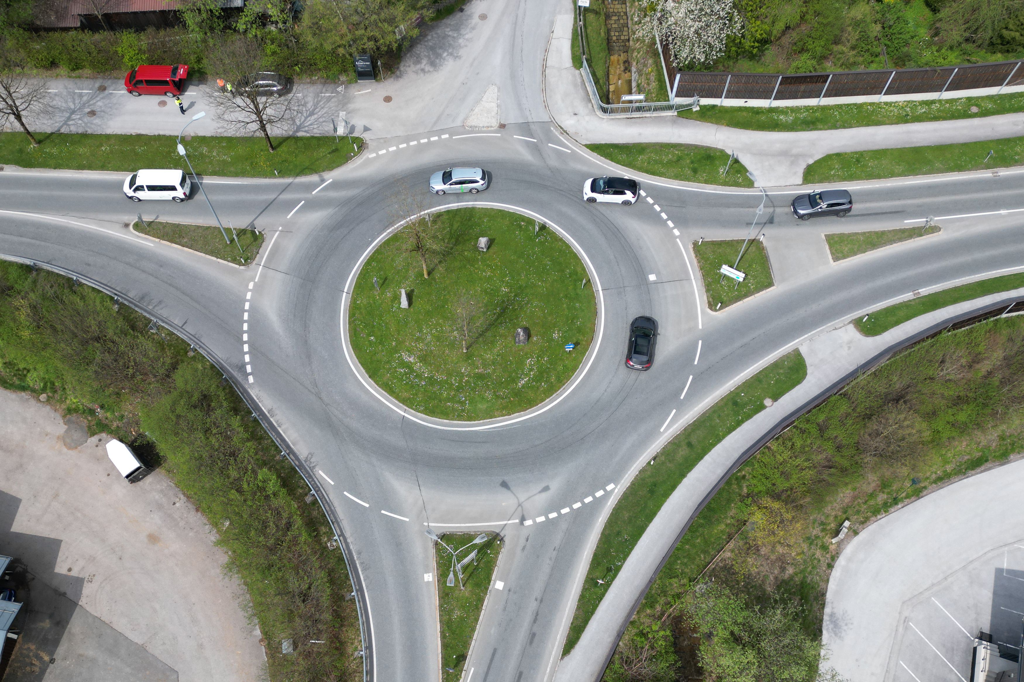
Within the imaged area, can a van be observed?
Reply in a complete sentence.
Yes, the picture does show a van.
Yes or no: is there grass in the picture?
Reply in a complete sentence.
Yes, there's grass in this view.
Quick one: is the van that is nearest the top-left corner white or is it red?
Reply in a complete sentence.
The van that is nearest the top-left corner looks red in the image.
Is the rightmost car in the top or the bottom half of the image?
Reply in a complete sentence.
The rightmost car is in the top half of the image.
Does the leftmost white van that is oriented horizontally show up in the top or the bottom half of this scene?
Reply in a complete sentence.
The top half of the photo is where the leftmost white van that is oriented horizontally is.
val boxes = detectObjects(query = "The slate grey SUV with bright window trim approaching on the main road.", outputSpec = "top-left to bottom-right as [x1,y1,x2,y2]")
[792,188,858,221]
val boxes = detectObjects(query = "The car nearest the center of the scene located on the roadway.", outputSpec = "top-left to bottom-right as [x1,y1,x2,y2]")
[625,313,660,371]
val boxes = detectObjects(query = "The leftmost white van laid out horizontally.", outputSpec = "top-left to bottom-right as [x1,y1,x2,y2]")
[120,170,192,203]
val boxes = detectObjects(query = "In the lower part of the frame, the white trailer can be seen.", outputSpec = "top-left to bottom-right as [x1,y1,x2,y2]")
[106,439,151,487]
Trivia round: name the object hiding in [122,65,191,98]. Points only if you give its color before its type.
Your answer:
red van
